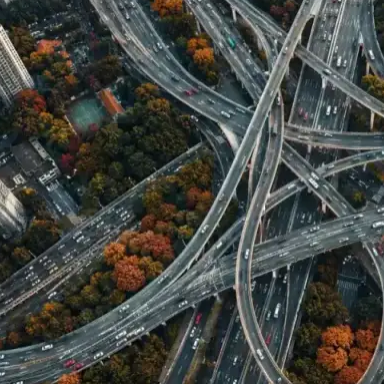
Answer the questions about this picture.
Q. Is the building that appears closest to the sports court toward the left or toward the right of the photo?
left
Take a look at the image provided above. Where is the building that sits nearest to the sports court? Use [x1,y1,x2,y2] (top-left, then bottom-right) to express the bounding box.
[97,89,127,122]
